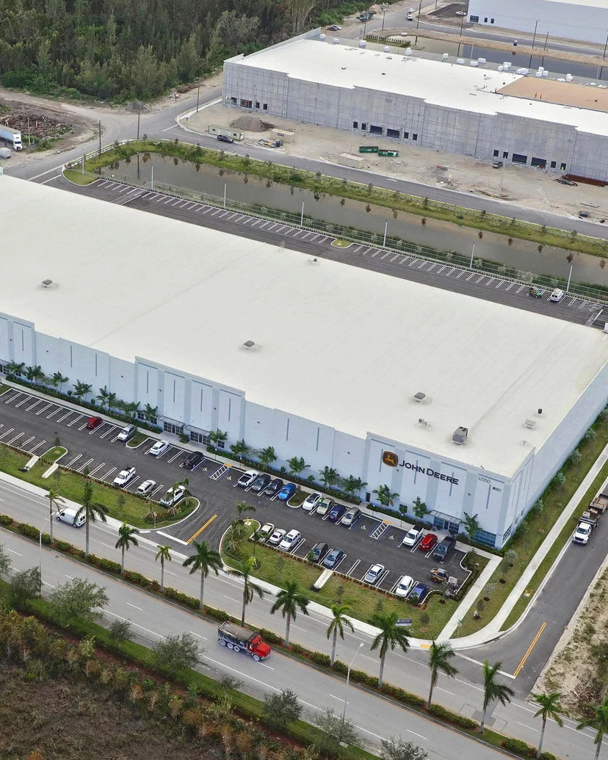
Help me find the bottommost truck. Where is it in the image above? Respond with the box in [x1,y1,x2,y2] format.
[216,612,273,656]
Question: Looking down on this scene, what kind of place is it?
industrial area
